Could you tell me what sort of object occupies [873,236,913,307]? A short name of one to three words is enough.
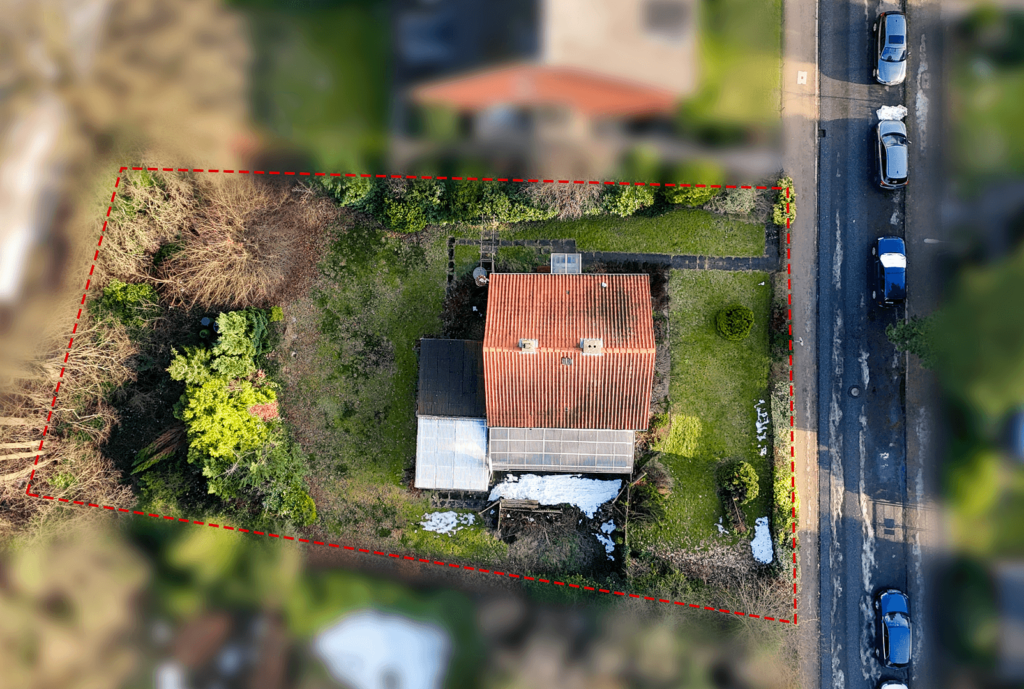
car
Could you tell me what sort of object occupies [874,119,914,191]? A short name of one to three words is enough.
car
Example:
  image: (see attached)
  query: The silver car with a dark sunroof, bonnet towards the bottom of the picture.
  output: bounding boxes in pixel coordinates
[873,10,913,86]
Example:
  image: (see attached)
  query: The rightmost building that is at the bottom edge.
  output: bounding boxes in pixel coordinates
[319,600,453,689]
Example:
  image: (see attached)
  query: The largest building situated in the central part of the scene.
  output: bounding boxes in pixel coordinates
[484,253,659,473]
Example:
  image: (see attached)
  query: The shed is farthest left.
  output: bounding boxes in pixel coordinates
[174,592,251,674]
